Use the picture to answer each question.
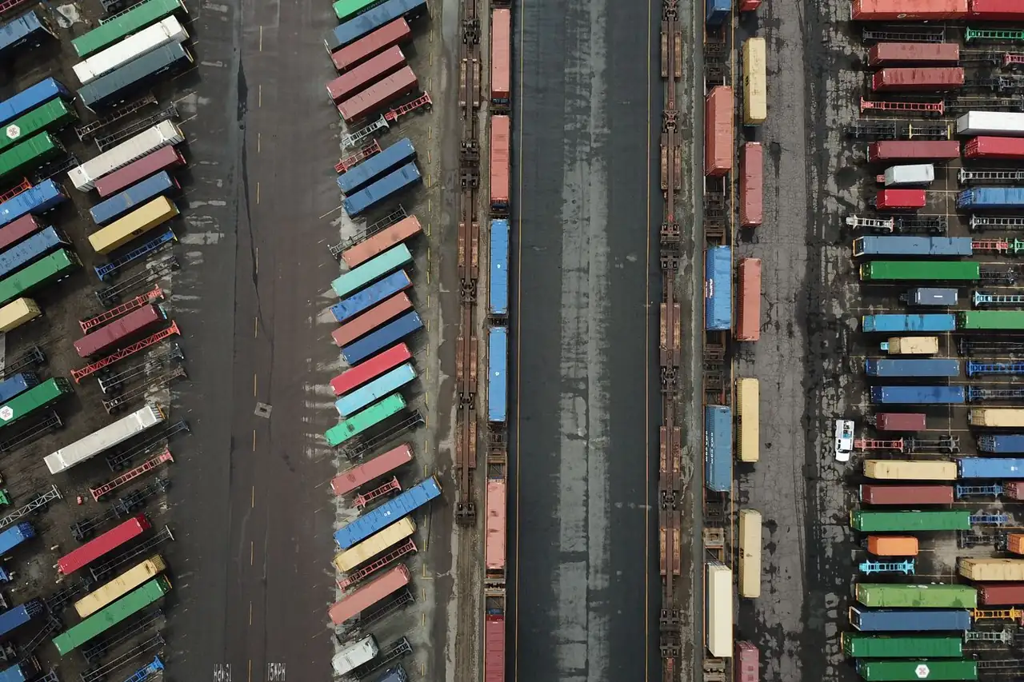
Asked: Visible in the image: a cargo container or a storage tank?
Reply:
cargo container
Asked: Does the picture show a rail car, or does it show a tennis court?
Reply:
rail car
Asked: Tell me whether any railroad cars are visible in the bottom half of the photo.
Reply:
Yes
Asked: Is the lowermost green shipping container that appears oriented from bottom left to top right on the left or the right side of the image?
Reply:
left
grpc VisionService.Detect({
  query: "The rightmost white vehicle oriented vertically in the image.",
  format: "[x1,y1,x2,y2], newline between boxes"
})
[834,420,853,460]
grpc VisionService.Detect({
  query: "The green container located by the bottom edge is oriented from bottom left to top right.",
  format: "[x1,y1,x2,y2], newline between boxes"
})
[53,573,173,656]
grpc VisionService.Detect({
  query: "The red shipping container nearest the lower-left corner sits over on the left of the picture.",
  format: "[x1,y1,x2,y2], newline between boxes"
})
[58,514,151,575]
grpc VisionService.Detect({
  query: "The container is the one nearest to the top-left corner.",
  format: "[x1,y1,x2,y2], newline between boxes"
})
[0,11,52,62]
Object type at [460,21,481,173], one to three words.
rail car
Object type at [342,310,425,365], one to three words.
shipping container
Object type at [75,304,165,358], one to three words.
shipping container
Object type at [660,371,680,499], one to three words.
rail car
